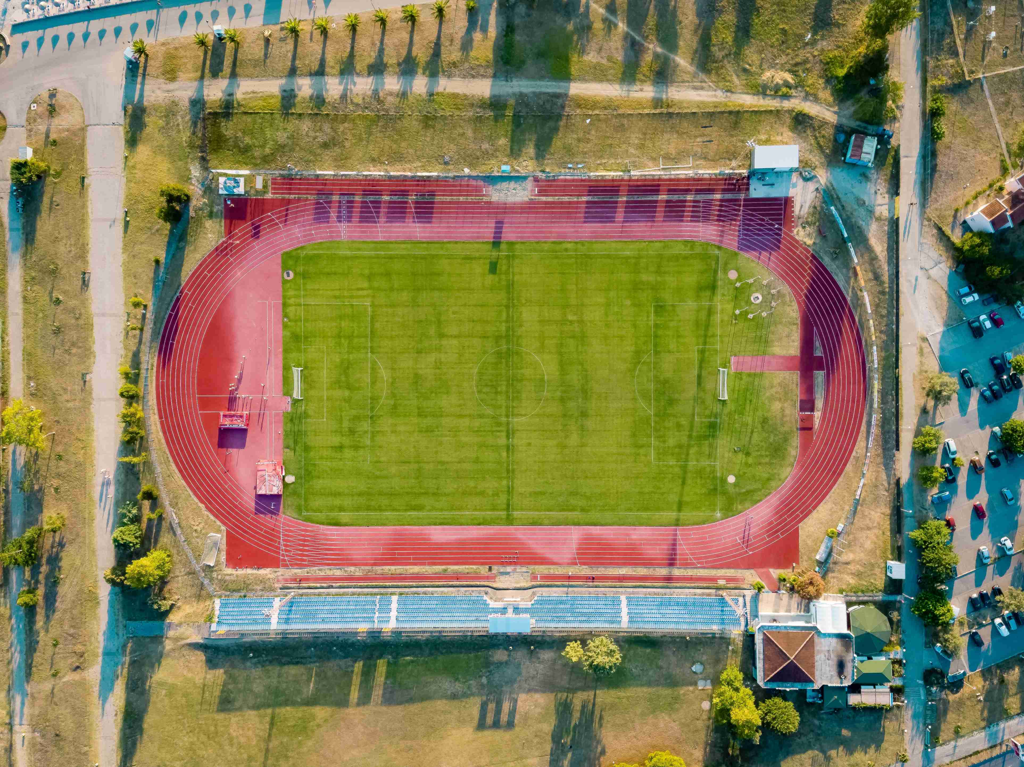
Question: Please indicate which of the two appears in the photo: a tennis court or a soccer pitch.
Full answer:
There is a soccer pitch in the scene.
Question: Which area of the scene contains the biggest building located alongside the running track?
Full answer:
Look in the bottom right portion of the view to spot the biggest building located alongside the running track.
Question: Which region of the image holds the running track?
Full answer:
The running track sits in the center section of the image.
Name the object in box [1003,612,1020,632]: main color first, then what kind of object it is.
blue car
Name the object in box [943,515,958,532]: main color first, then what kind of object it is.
red car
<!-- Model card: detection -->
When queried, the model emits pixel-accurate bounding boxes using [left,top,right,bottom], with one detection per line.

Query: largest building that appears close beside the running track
[751,619,854,688]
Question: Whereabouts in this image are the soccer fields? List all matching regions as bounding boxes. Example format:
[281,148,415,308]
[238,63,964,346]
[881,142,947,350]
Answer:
[282,241,799,525]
